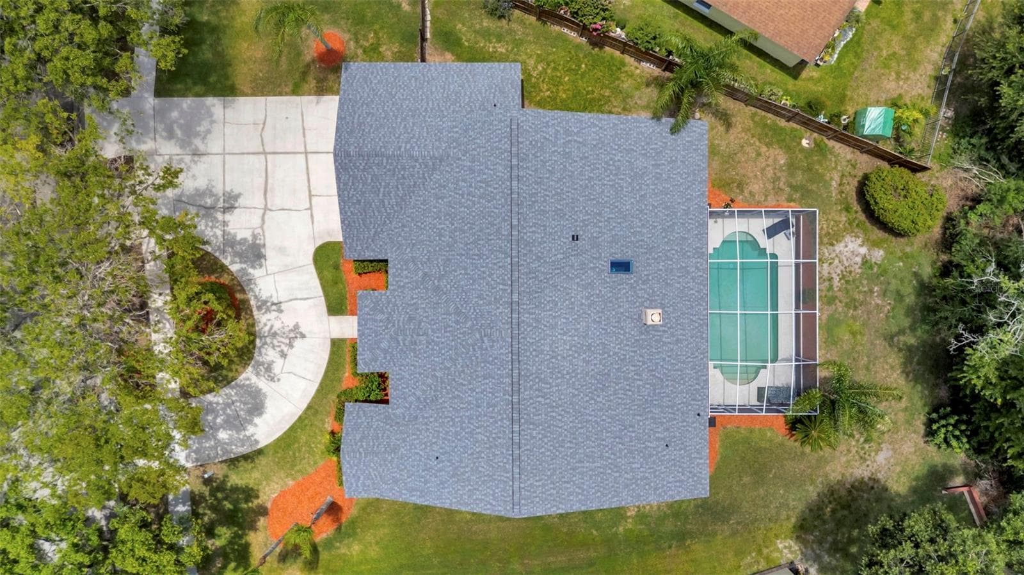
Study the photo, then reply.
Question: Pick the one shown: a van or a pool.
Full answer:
It is a pool that can be seen here.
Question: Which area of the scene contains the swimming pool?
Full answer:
Look in the right portion of the view to spot the swimming pool.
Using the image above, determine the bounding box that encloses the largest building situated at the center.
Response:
[333,61,709,518]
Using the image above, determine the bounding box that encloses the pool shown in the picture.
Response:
[711,230,780,386]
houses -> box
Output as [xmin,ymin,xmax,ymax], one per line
[680,0,852,66]
[333,61,709,518]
